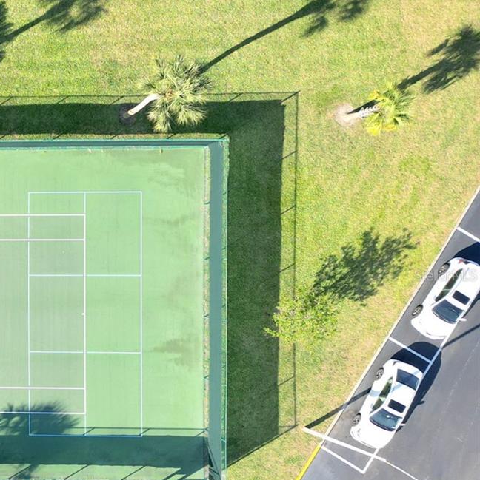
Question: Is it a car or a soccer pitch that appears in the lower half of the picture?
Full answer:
It is a car that can be seen in the lower half of the picture.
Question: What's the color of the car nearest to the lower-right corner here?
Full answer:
The color of the car nearest to the lower-right corner is white.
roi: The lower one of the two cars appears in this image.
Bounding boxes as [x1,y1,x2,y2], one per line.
[355,359,423,448]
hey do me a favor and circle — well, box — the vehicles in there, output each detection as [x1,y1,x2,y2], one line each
[413,253,480,340]
[355,359,423,448]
